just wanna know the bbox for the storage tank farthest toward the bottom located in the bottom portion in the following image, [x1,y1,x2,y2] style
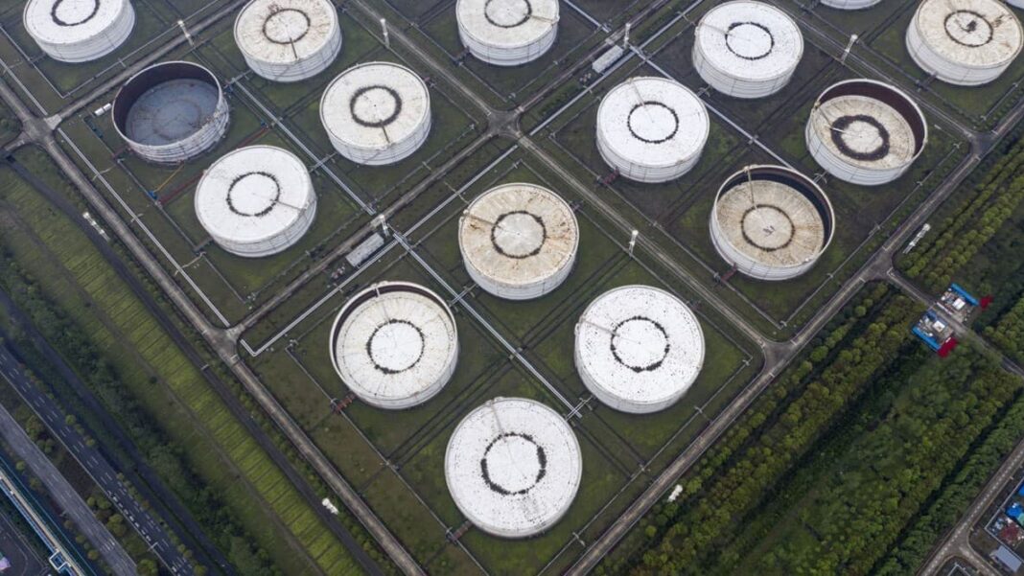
[444,395,584,542]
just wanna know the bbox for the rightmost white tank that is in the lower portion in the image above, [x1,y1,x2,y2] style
[572,283,707,416]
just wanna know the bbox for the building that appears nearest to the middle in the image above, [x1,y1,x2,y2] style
[345,230,386,266]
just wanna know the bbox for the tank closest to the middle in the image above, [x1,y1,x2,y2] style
[457,181,580,302]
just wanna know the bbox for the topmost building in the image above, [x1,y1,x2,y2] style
[591,41,626,72]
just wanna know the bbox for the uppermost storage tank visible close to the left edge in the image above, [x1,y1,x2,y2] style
[21,0,138,64]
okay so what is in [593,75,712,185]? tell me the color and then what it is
white storage tank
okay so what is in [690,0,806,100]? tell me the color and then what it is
white storage tank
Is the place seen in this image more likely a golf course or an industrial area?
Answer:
industrial area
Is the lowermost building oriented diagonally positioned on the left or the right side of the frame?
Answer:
right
